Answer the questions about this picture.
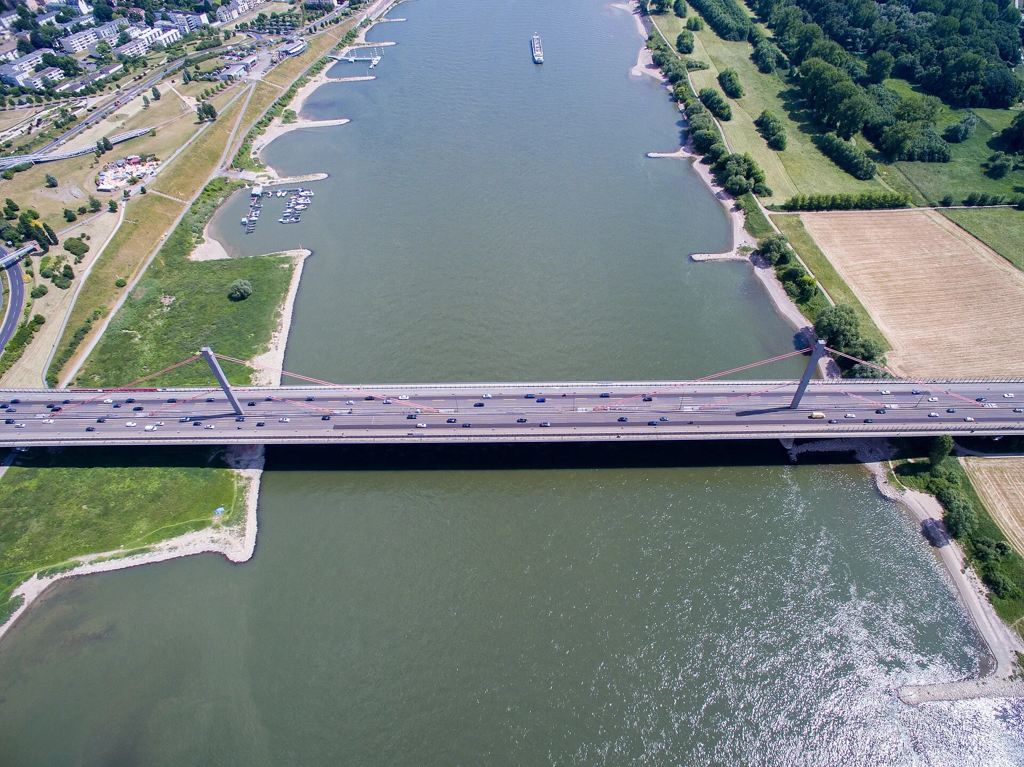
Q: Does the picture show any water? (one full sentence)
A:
Yes, water can be seen from above here.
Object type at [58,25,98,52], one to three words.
building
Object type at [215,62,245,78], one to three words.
building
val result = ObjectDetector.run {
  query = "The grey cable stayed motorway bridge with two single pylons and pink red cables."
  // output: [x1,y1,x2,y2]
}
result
[0,340,1024,460]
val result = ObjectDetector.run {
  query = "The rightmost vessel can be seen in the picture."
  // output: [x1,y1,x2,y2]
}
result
[530,31,544,64]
